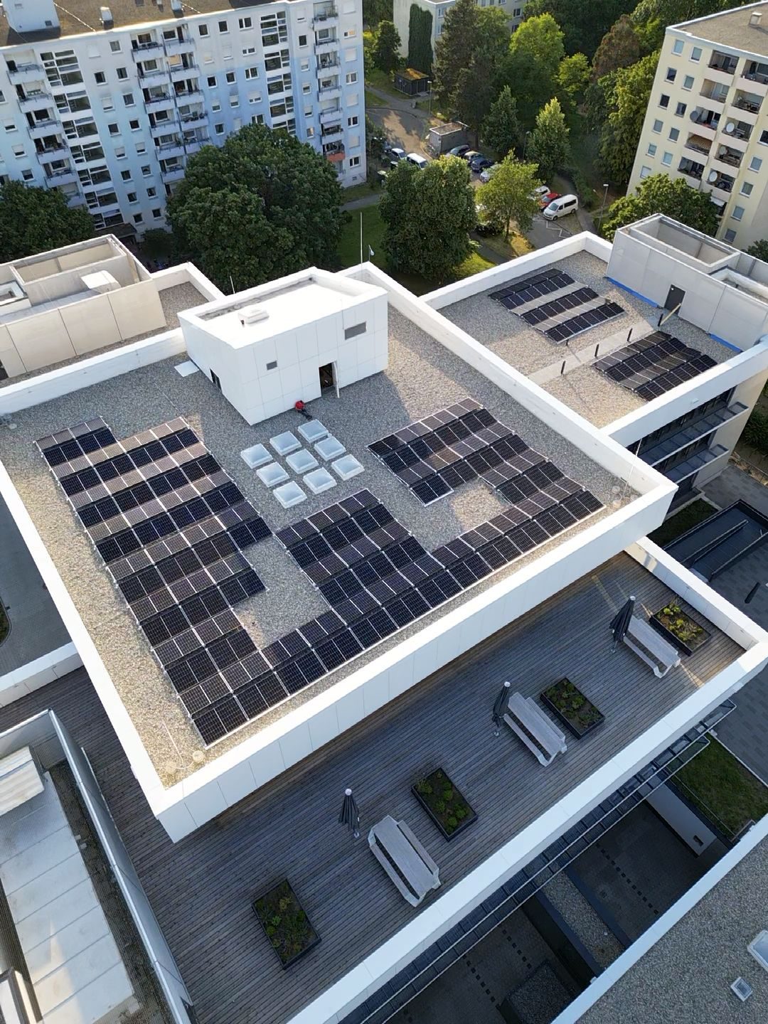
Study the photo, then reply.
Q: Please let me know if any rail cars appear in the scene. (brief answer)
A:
No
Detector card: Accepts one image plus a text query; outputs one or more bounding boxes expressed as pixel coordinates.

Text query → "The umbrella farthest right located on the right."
[610,595,641,651]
